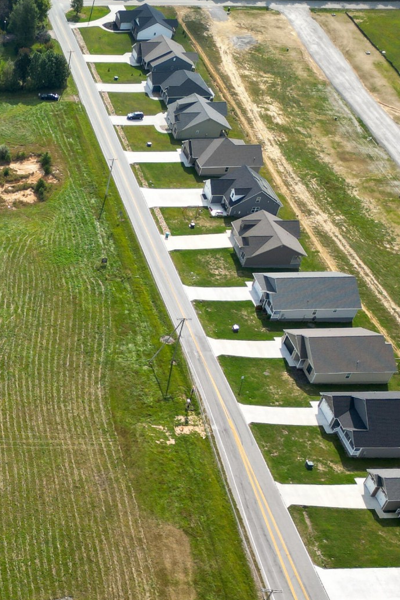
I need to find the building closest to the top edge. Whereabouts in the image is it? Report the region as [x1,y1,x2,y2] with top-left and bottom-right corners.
[115,4,182,41]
